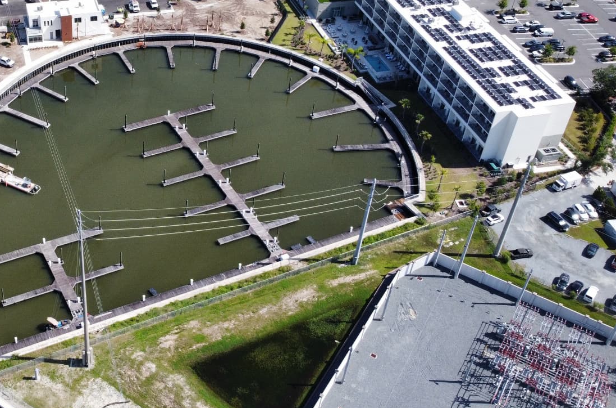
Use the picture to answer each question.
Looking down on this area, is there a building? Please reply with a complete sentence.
Yes, you can see a building in this photo.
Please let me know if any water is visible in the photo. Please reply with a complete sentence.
Yes, some water is visible.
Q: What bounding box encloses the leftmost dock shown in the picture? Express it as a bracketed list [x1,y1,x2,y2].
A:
[0,227,124,320]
